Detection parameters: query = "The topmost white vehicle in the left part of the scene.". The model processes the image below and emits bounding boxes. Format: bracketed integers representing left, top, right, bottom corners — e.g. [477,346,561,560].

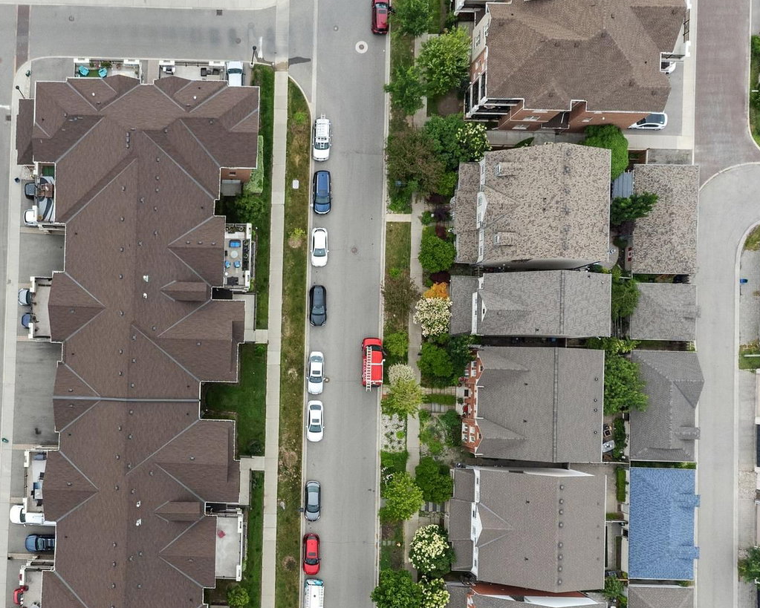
[225,59,245,84]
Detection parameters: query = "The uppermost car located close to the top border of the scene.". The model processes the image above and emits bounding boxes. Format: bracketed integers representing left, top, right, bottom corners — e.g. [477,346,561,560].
[370,0,391,36]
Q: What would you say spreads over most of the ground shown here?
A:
buildings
